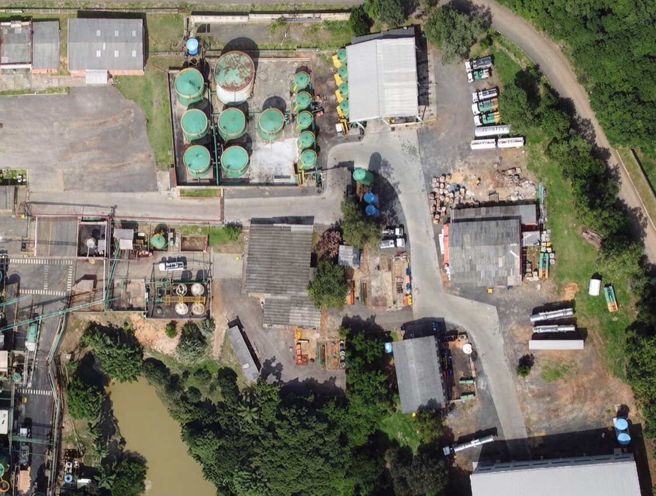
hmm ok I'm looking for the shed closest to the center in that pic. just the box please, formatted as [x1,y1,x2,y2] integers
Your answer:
[337,246,359,266]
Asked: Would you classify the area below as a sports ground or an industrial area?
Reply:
industrial area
